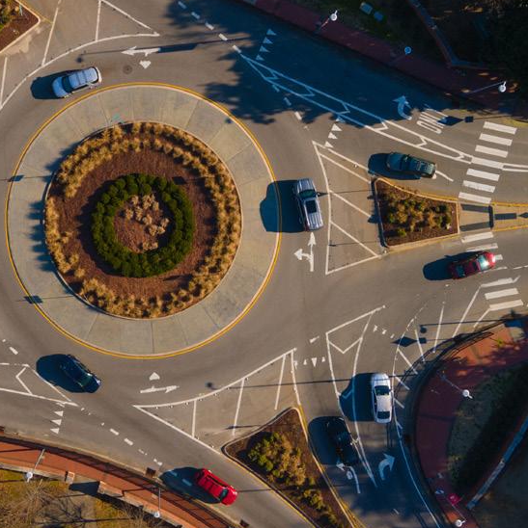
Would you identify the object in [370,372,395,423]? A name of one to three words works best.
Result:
car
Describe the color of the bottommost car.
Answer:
red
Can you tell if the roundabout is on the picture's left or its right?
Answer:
left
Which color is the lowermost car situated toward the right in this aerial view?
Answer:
black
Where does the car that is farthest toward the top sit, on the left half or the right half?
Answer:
left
